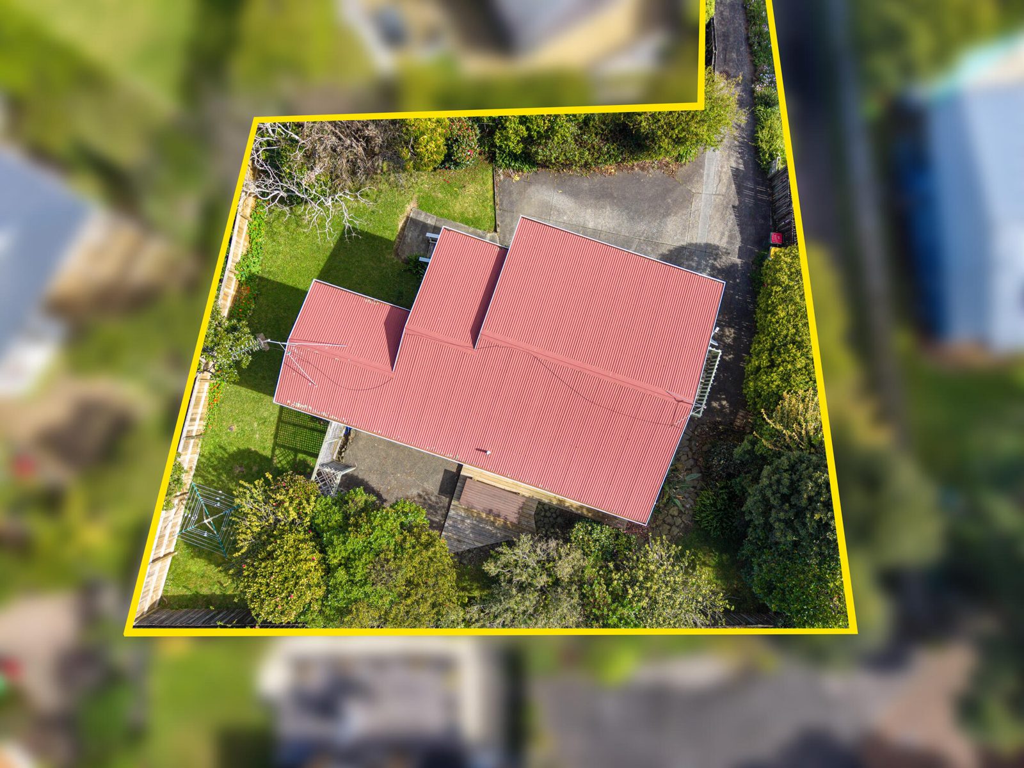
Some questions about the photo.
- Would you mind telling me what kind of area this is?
residential area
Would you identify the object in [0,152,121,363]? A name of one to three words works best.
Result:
house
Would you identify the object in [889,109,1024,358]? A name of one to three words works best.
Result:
house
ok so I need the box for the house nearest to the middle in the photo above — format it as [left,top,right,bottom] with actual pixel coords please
[272,213,727,526]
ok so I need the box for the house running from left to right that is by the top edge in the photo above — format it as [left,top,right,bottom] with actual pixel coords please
[466,0,664,80]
